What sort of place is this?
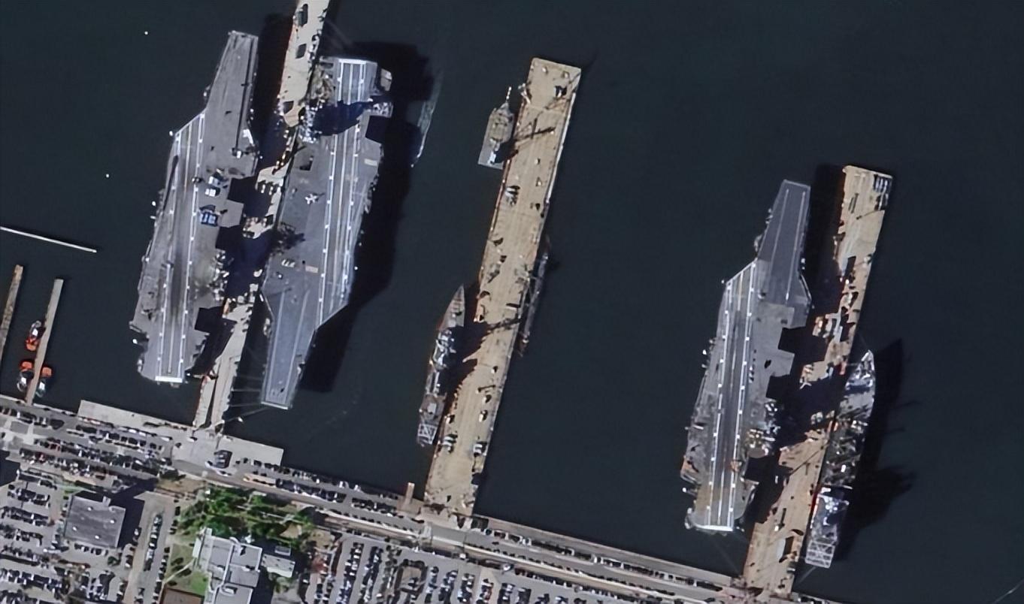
port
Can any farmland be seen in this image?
No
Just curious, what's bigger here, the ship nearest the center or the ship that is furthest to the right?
the ship that is furthest to the right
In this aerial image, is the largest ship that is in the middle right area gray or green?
gray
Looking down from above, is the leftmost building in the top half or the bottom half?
bottom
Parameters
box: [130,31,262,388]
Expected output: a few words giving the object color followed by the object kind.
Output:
gray ship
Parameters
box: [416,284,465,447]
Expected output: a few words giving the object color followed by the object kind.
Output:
gray ship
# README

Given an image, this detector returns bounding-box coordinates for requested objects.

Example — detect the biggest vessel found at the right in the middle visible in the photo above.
[680,179,814,536]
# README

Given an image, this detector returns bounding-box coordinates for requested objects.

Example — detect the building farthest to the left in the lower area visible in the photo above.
[65,495,126,547]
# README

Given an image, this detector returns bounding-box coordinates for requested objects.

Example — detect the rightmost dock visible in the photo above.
[741,166,893,599]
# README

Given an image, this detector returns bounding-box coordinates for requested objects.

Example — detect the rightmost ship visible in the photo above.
[802,351,876,569]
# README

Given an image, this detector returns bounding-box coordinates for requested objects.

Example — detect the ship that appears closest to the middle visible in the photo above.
[523,250,548,353]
